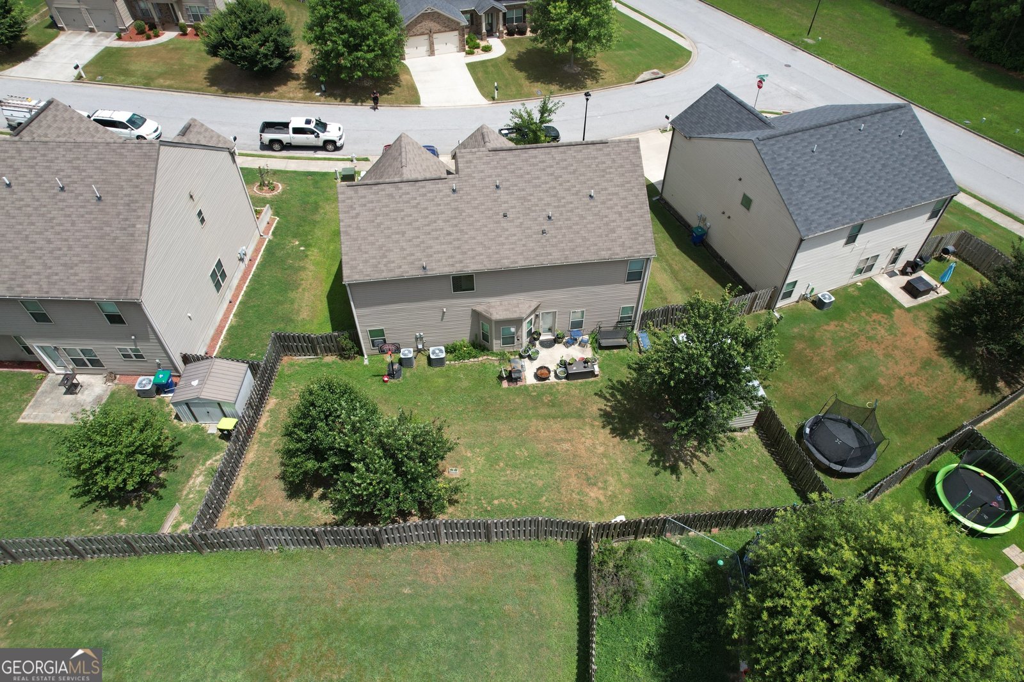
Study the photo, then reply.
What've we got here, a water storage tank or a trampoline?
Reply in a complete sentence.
There is a trampoline in the scene.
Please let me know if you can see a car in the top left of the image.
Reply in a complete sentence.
Yes, a car shows up in the top left of the image.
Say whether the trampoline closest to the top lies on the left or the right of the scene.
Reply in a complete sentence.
The trampoline closest to the top is on the right side of the image.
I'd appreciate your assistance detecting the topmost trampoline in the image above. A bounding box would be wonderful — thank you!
[797,393,901,489]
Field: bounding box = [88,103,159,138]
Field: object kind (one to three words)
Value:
car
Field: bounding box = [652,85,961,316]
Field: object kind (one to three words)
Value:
house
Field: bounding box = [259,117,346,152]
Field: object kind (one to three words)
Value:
truck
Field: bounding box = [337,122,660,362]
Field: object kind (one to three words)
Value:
house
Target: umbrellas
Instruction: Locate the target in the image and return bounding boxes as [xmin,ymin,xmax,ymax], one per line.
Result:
[940,258,963,291]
